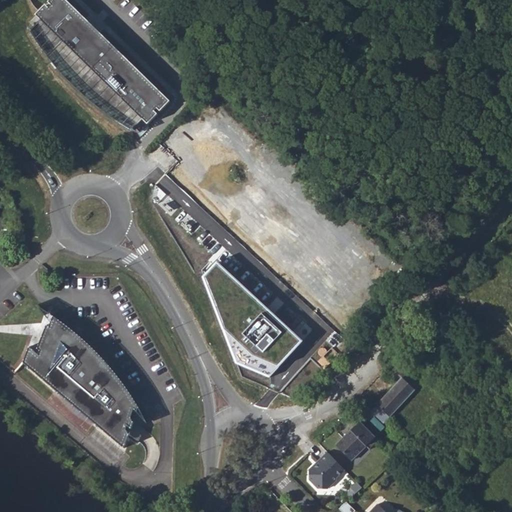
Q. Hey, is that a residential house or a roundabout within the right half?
residential house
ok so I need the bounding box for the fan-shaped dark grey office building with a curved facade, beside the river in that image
[24,304,147,446]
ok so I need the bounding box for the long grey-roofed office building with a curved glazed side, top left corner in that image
[30,0,170,130]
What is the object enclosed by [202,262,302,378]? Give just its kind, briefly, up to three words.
building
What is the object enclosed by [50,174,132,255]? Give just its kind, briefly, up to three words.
roundabout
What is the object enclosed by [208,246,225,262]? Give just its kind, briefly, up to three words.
vehicle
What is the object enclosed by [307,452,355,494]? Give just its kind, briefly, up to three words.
house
